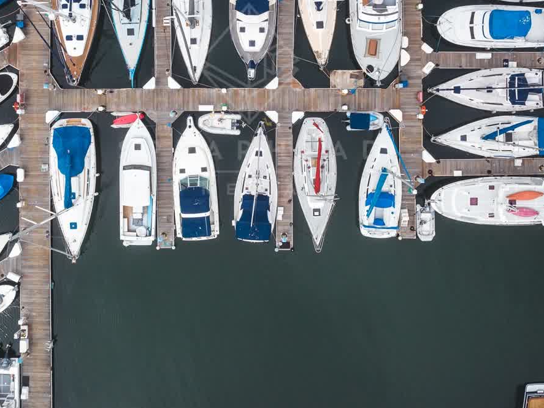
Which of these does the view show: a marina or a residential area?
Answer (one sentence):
The area seen from above is a marina.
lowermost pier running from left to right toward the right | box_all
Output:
[422,158,544,176]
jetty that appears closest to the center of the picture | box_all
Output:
[276,111,293,250]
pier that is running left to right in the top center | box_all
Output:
[49,72,400,125]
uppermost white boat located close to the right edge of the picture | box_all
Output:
[434,4,544,48]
